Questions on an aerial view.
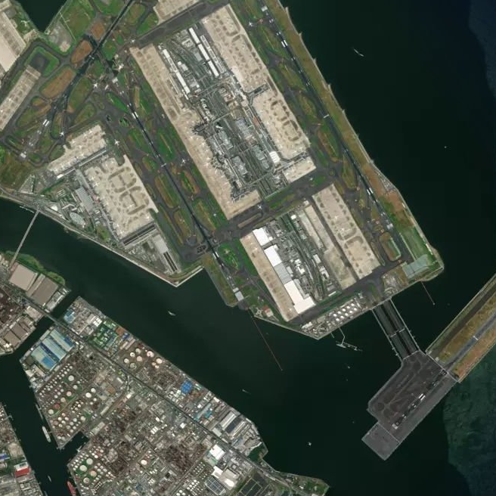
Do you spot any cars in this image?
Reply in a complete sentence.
No, no car can be seen from above.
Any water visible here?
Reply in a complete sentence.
Yes, there's water in this view.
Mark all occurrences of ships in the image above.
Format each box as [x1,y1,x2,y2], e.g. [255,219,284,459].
[43,426,51,443]
[67,481,77,496]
